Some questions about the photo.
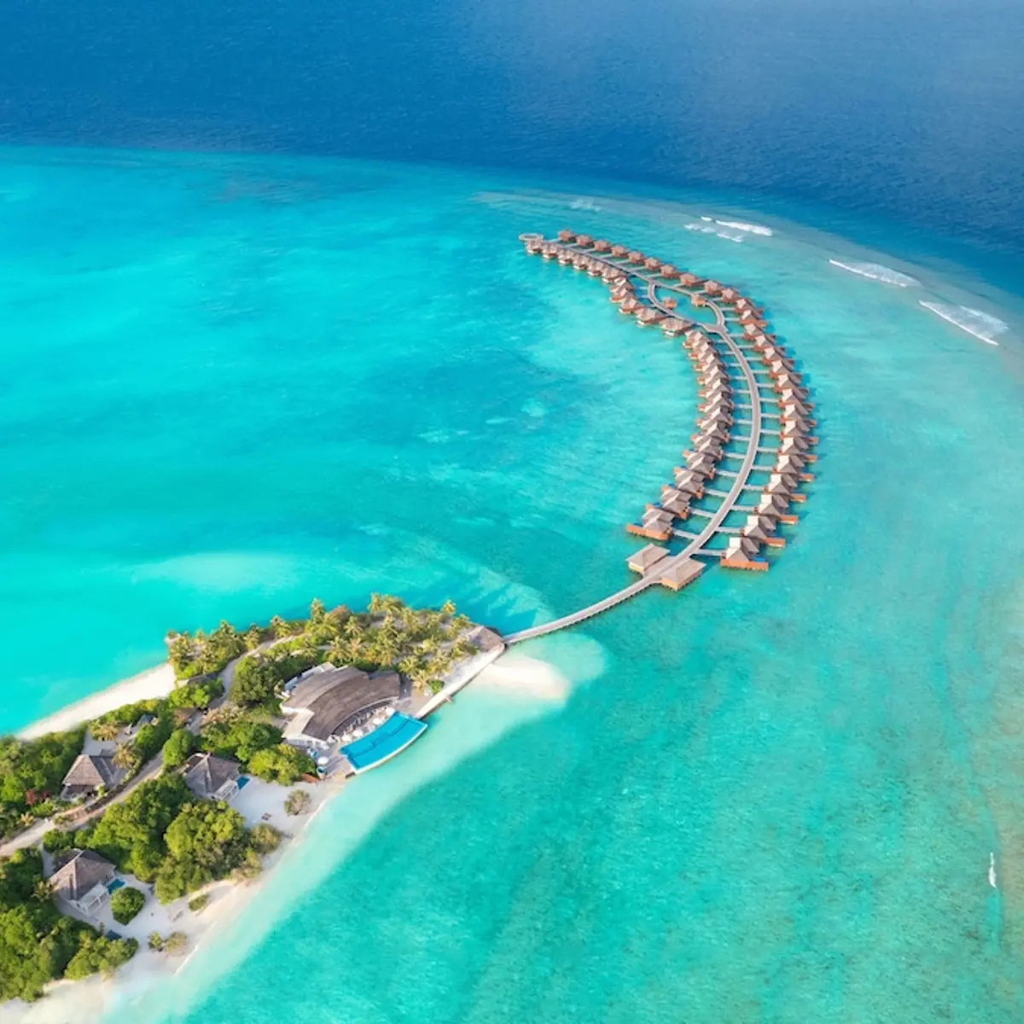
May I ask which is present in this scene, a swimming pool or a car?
swimming pool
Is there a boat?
No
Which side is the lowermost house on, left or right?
left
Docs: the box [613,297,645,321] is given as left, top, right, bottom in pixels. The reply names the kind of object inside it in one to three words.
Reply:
house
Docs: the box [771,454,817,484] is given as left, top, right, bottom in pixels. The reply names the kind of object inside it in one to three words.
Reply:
house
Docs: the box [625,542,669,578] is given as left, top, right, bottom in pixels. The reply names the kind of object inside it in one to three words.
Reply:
building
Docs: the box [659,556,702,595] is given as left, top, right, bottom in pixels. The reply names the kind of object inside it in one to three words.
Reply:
building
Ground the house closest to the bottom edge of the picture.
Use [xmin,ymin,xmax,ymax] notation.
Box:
[46,848,113,914]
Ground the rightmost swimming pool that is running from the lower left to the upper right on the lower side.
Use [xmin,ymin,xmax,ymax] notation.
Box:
[339,710,428,777]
